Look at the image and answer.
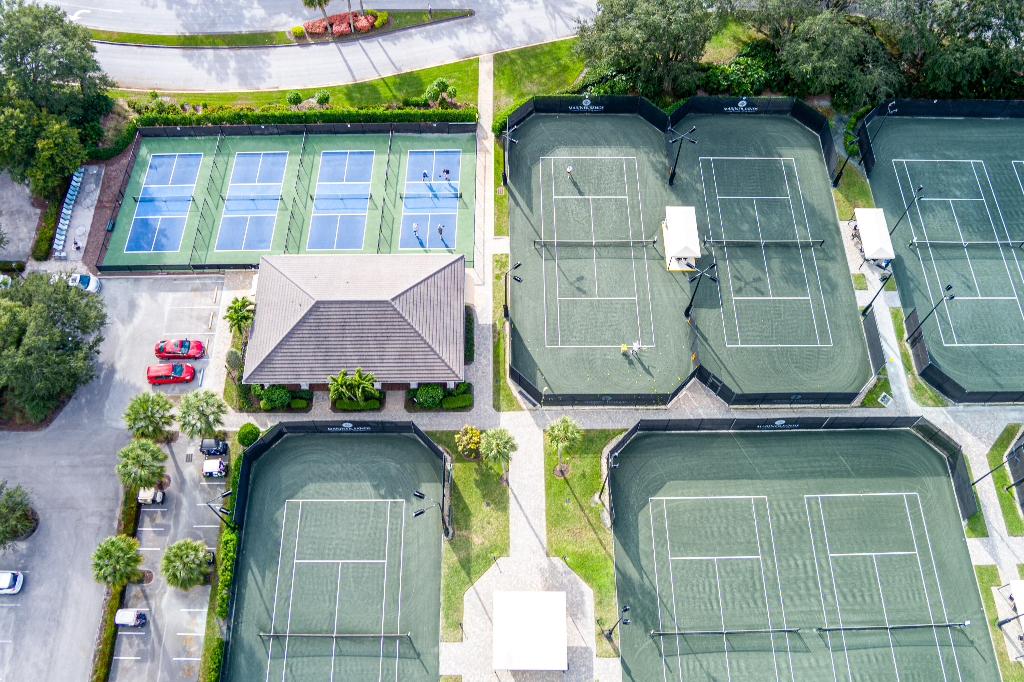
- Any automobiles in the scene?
Yes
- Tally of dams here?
zero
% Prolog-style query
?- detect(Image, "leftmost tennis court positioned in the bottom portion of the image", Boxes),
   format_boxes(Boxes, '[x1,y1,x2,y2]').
[226,433,444,682]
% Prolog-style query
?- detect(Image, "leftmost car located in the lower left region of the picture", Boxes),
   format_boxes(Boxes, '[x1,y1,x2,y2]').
[0,573,25,596]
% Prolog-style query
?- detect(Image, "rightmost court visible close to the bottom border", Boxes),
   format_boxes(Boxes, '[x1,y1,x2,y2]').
[752,428,1004,682]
